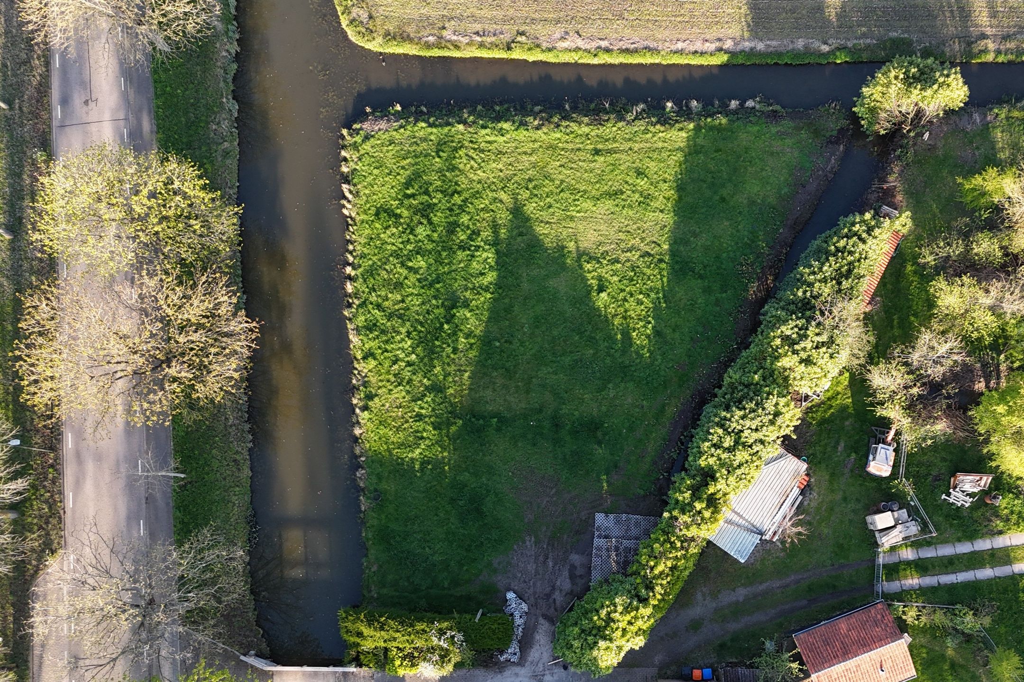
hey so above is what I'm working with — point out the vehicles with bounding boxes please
[862,425,905,477]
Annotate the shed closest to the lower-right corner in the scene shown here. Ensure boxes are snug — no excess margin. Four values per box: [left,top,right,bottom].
[778,596,913,682]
